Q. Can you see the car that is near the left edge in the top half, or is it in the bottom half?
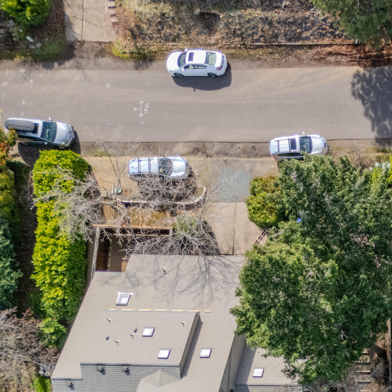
top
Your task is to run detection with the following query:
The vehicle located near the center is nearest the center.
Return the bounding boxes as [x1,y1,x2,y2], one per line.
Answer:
[125,156,191,185]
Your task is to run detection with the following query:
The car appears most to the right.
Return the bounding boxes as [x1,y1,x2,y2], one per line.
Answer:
[268,133,331,163]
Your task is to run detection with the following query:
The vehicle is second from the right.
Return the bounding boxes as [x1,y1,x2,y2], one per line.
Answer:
[167,49,230,82]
